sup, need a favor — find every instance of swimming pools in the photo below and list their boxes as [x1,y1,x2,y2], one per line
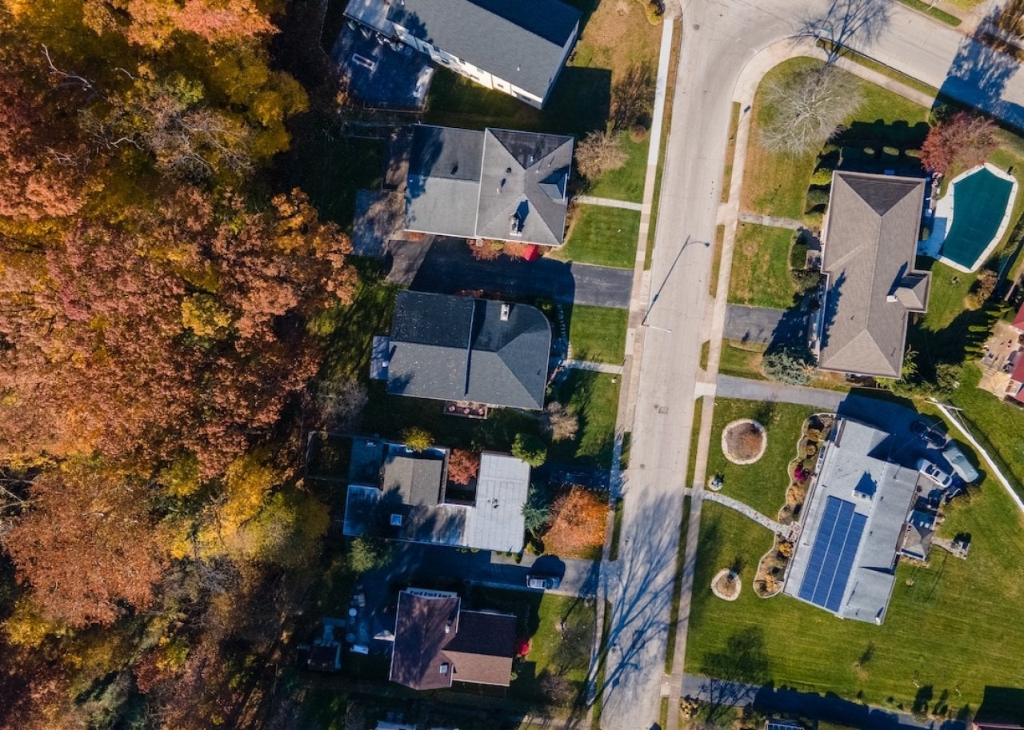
[918,161,1019,276]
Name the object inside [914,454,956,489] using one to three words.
car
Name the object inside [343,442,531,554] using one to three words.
house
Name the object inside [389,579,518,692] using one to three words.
house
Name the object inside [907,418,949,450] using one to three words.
car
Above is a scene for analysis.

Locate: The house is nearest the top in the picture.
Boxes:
[342,0,584,107]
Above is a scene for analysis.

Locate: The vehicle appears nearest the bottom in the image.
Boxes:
[526,573,563,592]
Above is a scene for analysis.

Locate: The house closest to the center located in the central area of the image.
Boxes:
[369,289,552,411]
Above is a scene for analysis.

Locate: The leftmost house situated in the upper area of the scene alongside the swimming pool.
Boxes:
[813,167,935,380]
